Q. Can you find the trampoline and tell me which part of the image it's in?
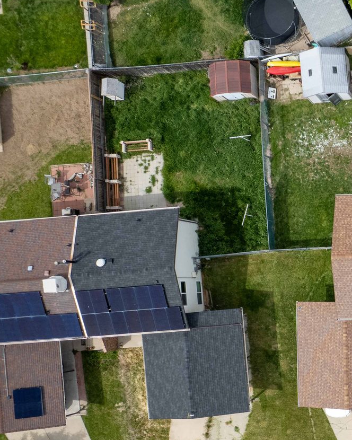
top right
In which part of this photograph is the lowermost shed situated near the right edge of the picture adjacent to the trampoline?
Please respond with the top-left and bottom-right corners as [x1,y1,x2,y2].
[300,47,352,105]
